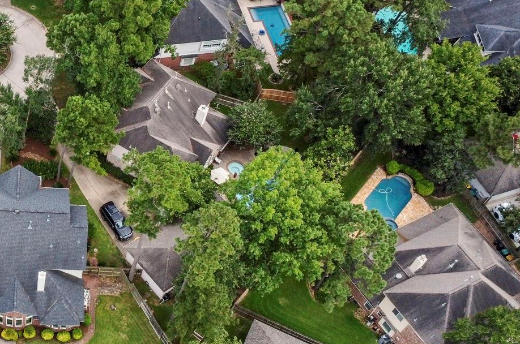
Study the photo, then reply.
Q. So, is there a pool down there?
Yes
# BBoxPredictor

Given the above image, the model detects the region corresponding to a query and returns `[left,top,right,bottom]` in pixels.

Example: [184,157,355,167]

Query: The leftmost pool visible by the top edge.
[248,5,296,55]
